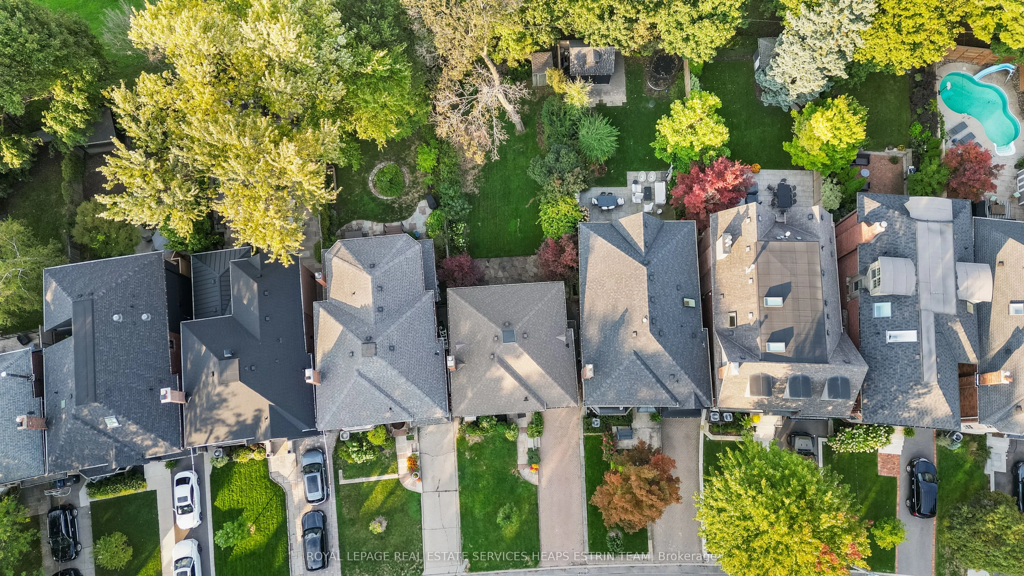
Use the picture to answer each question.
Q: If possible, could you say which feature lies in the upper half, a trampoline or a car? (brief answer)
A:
trampoline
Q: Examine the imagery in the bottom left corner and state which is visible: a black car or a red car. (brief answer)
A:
black car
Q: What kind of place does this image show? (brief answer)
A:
residential area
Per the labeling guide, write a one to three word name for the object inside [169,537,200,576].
car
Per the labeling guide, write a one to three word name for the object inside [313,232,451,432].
house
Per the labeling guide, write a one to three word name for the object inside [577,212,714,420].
house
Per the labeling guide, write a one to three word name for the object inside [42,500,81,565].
car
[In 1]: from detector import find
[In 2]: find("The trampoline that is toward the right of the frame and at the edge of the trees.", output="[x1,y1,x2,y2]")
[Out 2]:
[645,54,677,90]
